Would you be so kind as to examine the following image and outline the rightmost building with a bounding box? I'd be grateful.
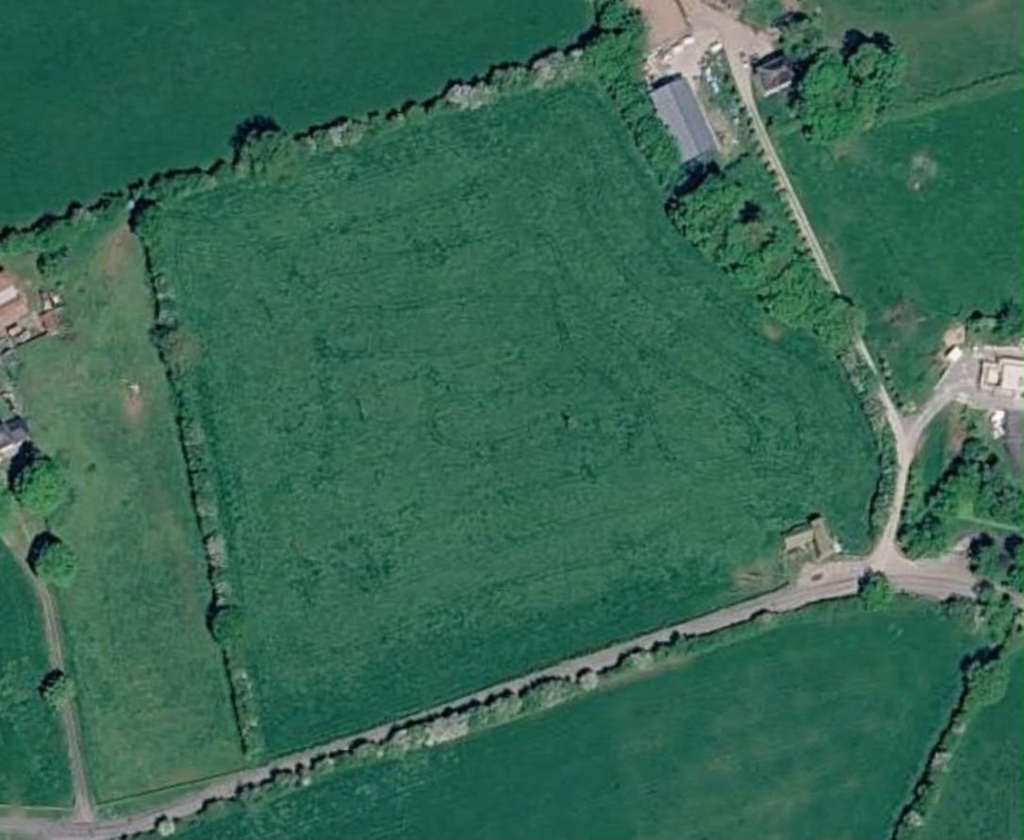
[981,358,1024,390]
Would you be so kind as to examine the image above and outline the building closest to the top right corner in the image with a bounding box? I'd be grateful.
[755,57,794,93]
